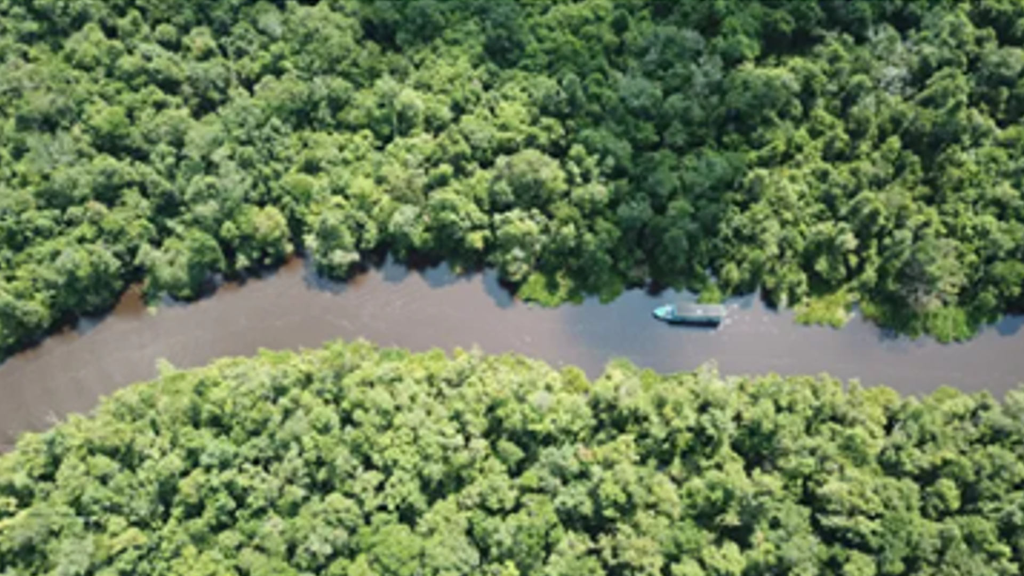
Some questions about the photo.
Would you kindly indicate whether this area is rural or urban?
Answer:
rural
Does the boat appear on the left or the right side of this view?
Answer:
right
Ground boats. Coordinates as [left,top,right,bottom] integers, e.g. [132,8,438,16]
[653,303,725,324]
